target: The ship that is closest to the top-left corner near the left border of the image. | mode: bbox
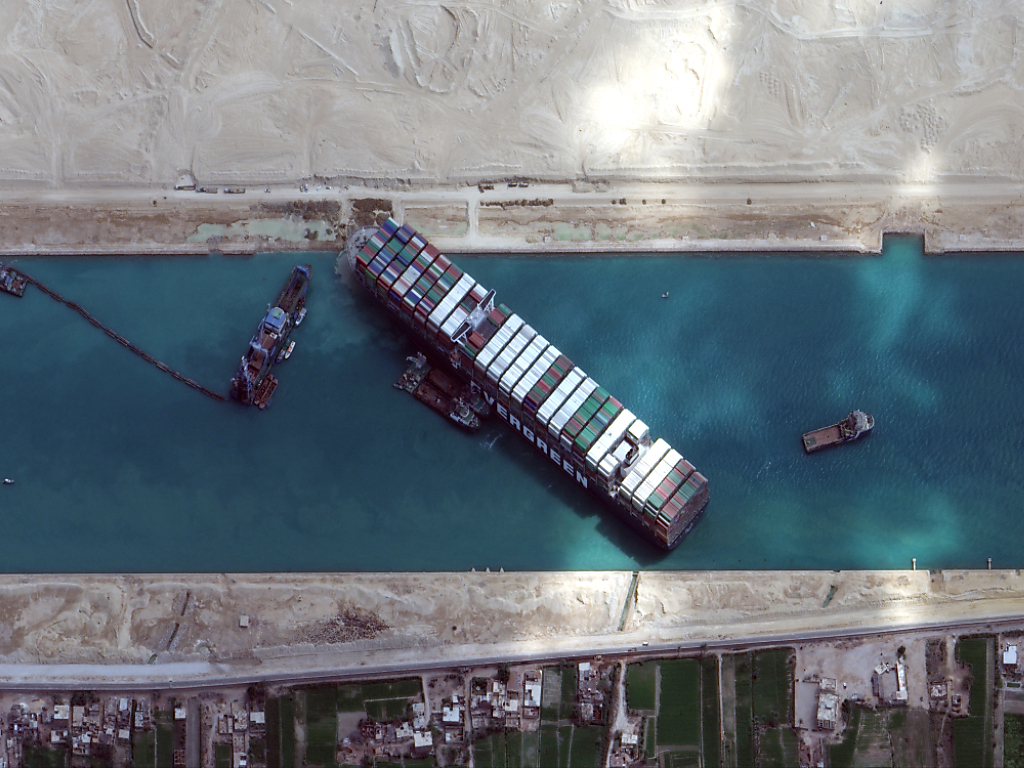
[0,258,30,301]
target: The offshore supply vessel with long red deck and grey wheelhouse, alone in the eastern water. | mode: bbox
[803,410,875,456]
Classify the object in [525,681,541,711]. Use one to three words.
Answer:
house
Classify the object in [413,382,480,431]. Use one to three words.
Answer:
ship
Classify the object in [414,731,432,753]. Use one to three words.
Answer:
house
